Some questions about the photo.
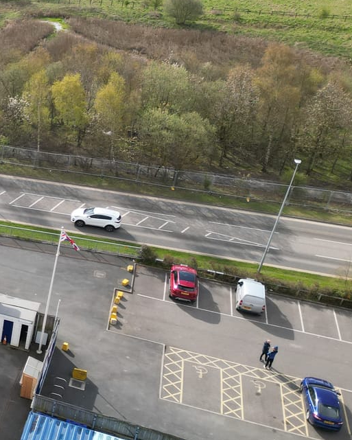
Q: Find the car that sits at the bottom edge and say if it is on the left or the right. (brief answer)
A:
right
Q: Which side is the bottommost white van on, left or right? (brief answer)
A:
right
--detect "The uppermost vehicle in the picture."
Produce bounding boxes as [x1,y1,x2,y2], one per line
[76,206,127,230]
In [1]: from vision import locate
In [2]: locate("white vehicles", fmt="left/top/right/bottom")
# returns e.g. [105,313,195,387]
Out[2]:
[237,279,273,318]
[76,206,127,230]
